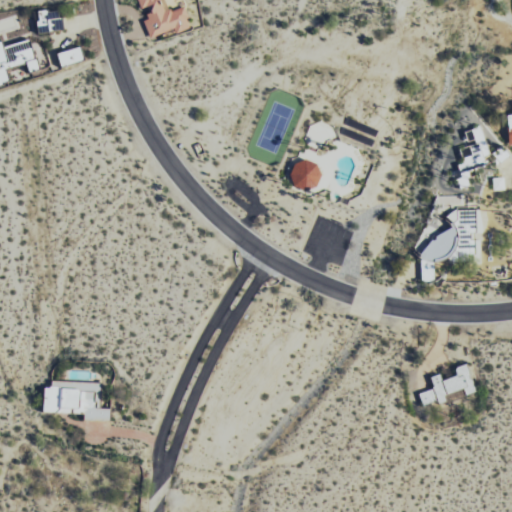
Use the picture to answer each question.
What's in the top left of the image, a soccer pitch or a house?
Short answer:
house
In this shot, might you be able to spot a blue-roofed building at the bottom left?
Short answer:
No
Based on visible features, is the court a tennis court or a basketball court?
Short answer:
tennis court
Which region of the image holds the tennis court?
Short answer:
top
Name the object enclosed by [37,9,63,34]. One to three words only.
house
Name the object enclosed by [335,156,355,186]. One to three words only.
swimming pool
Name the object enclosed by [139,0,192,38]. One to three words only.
house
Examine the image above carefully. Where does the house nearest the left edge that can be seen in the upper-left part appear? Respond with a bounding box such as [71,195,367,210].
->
[0,39,40,86]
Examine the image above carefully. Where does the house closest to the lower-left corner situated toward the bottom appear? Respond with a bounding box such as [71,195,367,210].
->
[42,382,110,422]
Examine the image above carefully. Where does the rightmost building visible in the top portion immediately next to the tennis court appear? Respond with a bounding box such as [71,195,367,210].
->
[291,160,322,190]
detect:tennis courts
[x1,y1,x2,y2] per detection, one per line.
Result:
[248,90,304,166]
